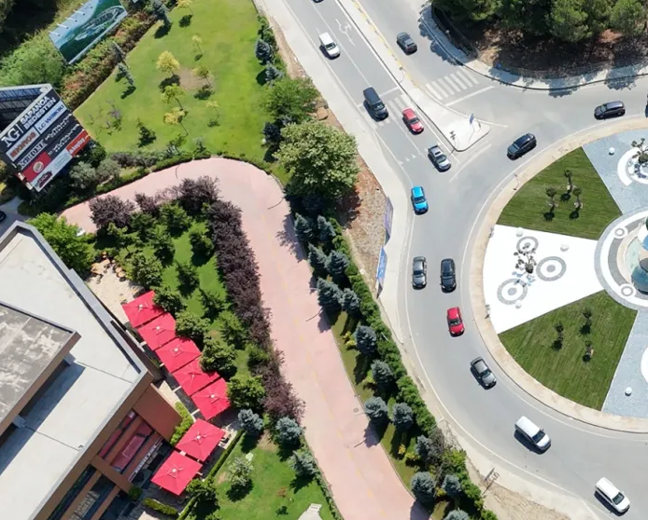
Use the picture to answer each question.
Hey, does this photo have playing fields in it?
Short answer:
No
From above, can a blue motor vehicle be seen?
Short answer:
Yes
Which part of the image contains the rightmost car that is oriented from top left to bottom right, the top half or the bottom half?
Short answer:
bottom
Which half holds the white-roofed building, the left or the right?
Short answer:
left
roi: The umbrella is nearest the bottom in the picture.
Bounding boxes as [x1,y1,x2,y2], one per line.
[152,451,203,496]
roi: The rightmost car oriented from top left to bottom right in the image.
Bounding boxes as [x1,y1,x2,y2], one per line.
[595,476,632,517]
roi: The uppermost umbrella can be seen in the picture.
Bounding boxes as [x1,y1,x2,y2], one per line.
[123,291,160,328]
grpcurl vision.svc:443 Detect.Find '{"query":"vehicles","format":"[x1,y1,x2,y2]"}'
[469,354,497,391]
[410,184,428,215]
[397,31,417,54]
[0,203,12,218]
[411,257,427,289]
[318,29,340,56]
[404,107,423,133]
[362,83,386,118]
[445,304,465,337]
[426,141,451,173]
[506,131,537,157]
[593,101,626,120]
[515,414,551,454]
[439,258,458,290]
[595,476,632,517]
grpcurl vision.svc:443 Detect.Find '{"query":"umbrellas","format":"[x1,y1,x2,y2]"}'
[138,315,177,351]
[155,338,197,373]
[191,379,231,421]
[173,358,221,396]
[123,291,160,328]
[175,419,225,461]
[152,451,203,496]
